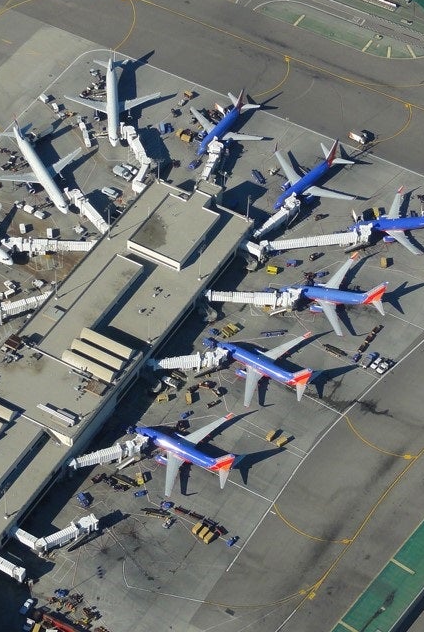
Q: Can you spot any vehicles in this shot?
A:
Yes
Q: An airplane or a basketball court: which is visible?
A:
airplane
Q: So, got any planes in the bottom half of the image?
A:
Yes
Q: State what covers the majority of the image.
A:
paved ground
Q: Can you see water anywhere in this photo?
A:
No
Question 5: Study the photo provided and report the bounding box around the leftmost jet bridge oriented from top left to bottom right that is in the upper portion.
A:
[64,189,111,239]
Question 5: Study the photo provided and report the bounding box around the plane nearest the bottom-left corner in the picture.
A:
[136,412,247,498]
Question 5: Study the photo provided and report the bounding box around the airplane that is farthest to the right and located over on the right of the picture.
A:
[349,185,424,254]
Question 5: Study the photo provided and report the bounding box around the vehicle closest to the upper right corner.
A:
[347,125,369,144]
